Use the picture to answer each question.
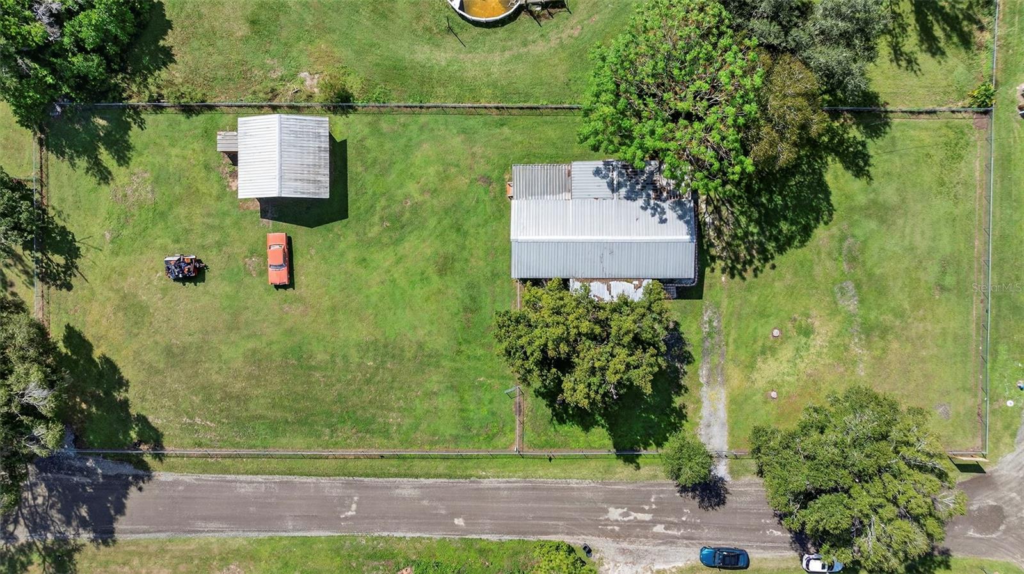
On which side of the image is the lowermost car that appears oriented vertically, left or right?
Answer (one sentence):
The lowermost car that appears oriented vertically is on the left side of the image.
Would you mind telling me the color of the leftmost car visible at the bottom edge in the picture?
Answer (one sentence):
The leftmost car visible at the bottom edge is blue.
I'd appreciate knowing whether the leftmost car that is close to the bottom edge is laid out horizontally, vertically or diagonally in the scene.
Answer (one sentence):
The leftmost car that is close to the bottom edge has been laid out horizontally relative to the frame.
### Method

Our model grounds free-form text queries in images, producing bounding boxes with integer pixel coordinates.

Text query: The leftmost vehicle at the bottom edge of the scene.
[699,545,750,571]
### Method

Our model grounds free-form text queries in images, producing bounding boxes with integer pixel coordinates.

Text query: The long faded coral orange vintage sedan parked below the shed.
[265,232,289,285]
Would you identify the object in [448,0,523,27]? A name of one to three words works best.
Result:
swimming pool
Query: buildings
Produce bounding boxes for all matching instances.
[511,199,699,279]
[238,113,332,198]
